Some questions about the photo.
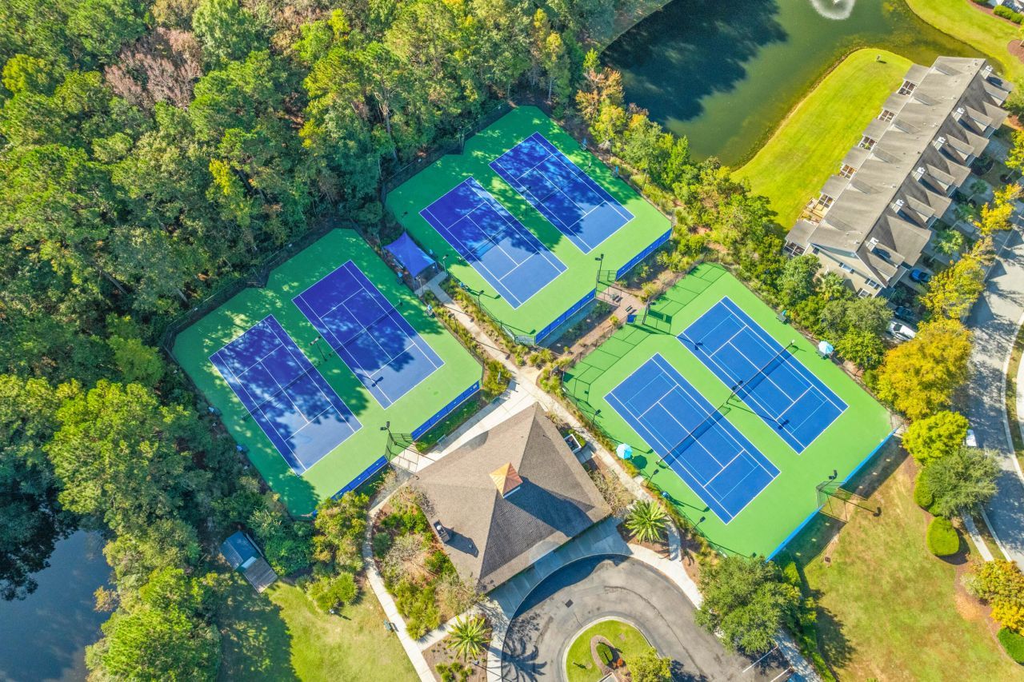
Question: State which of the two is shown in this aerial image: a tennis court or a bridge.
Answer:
tennis court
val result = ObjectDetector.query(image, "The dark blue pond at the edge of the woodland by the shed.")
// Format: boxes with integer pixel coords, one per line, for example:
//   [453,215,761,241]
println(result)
[0,490,116,682]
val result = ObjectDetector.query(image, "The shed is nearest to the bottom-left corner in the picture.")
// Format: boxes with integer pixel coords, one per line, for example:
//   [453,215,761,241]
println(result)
[220,531,258,571]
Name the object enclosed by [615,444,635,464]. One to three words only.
umbrella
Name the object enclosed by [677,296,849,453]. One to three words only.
tennis court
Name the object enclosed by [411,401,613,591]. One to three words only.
building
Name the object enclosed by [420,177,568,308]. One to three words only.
tennis court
